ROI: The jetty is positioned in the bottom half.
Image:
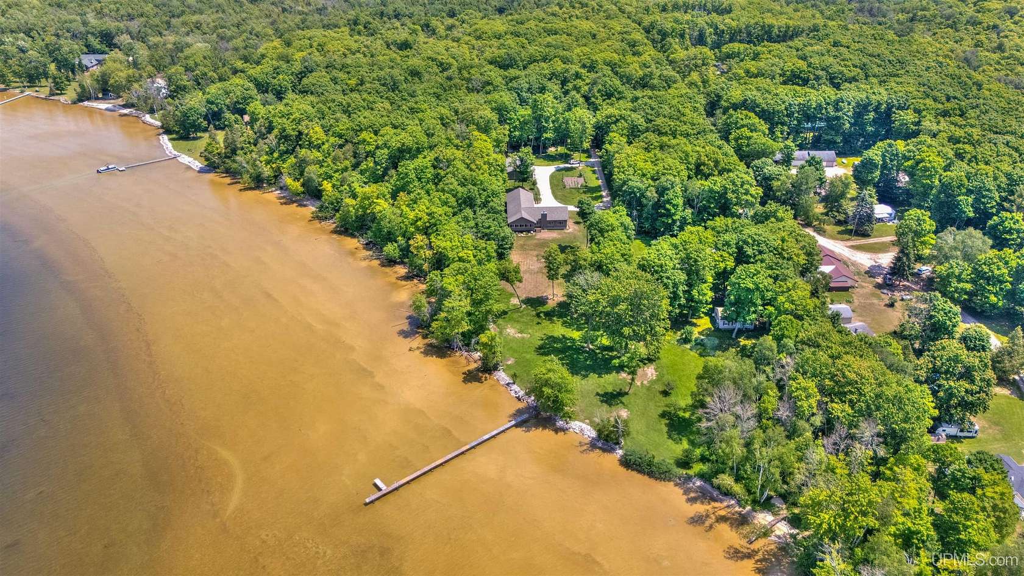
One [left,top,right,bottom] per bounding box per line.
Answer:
[366,412,541,509]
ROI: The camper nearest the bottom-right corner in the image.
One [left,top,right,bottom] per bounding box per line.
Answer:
[937,419,978,439]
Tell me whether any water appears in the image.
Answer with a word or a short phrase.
Yes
